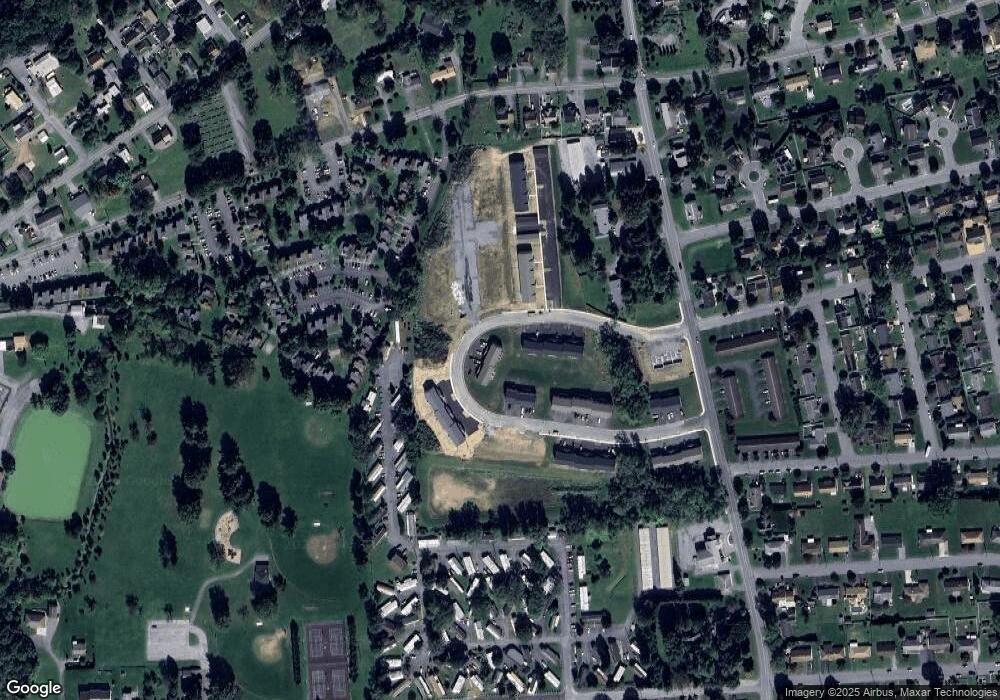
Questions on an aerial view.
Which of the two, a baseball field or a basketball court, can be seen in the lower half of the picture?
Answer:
baseball field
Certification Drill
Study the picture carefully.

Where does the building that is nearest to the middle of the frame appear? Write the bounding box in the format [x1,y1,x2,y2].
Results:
[474,340,505,386]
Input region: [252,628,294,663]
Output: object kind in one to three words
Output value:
baseball field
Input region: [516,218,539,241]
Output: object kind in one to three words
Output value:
building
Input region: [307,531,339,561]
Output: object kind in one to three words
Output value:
baseball field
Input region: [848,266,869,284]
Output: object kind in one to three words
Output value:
house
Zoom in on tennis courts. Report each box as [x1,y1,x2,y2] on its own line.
[332,670,346,699]
[329,627,343,656]
[309,629,323,657]
[312,672,325,700]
